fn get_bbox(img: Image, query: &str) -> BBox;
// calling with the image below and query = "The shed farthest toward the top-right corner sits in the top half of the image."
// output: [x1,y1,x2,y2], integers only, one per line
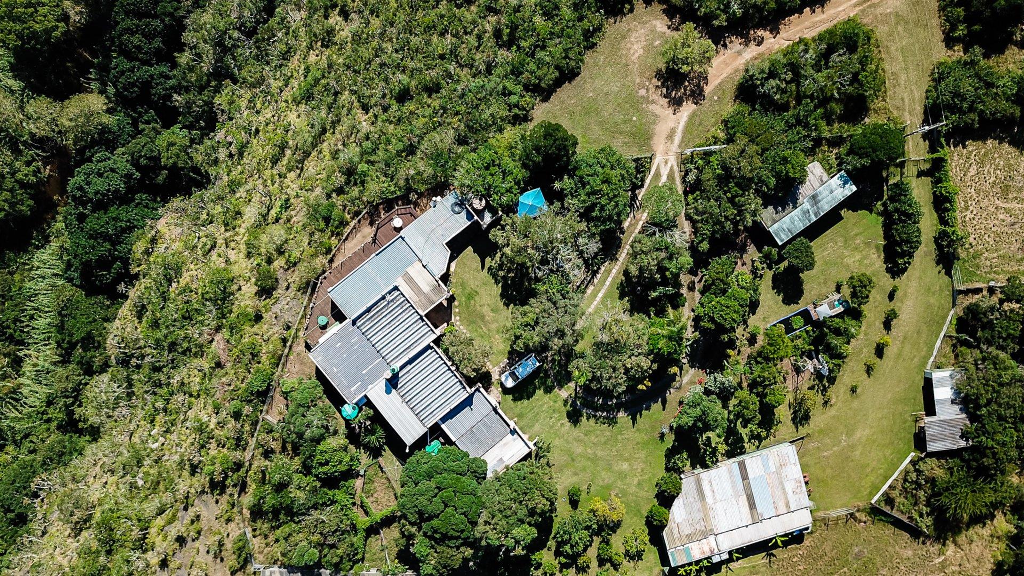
[756,162,857,246]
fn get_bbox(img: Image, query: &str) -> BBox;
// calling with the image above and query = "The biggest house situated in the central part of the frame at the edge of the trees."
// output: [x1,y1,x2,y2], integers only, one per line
[310,190,536,476]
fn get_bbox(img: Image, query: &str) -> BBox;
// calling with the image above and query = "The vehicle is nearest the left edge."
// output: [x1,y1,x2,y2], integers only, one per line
[497,349,545,390]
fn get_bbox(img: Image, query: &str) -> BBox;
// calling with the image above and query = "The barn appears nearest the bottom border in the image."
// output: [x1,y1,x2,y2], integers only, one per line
[662,442,813,568]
